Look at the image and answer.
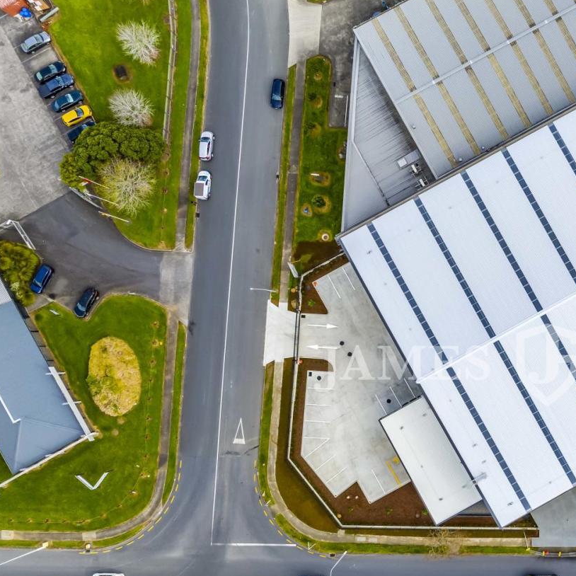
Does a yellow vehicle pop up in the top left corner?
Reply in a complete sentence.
Yes, a yellow vehicle shows up in the top left corner.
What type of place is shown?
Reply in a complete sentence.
The area seen from above is an industrial area.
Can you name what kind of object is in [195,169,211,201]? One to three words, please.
vehicle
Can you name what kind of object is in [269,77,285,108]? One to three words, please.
car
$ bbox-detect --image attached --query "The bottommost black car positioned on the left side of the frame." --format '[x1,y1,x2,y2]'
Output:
[75,285,100,318]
